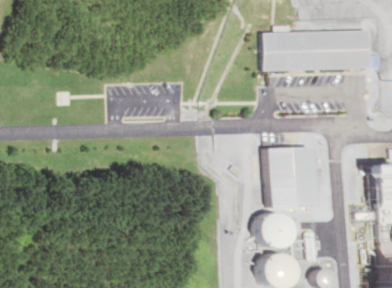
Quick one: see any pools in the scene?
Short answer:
No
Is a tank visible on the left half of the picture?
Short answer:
No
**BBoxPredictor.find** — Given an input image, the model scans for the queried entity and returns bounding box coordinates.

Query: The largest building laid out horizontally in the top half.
[257,30,372,72]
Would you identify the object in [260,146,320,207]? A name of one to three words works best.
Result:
building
